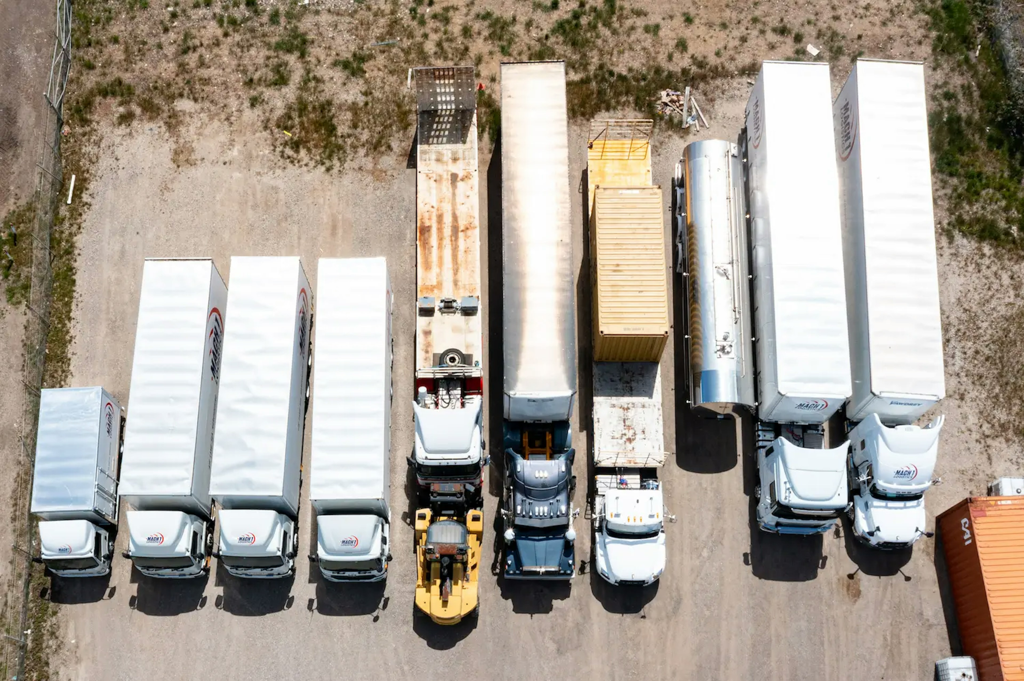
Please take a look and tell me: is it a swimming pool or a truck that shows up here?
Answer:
truck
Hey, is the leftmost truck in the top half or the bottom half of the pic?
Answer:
bottom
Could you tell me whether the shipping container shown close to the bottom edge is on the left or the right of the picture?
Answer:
right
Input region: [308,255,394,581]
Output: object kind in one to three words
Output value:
truck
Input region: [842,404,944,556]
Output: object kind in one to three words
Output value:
truck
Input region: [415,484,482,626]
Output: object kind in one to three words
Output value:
work vehicle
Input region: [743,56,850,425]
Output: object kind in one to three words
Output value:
trailer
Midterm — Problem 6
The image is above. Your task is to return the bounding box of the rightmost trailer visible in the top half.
[832,54,945,425]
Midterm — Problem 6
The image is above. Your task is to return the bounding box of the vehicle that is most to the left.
[31,384,125,574]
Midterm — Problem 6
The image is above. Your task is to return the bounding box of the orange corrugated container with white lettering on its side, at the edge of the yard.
[938,496,1024,681]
